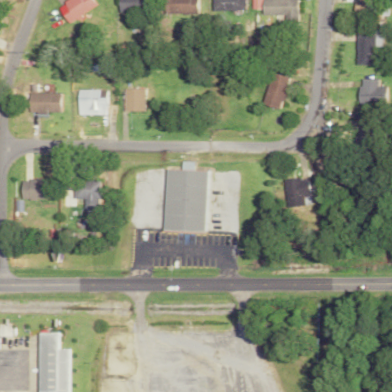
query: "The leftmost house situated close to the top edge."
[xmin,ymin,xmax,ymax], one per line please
[61,0,100,23]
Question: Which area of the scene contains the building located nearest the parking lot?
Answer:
center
